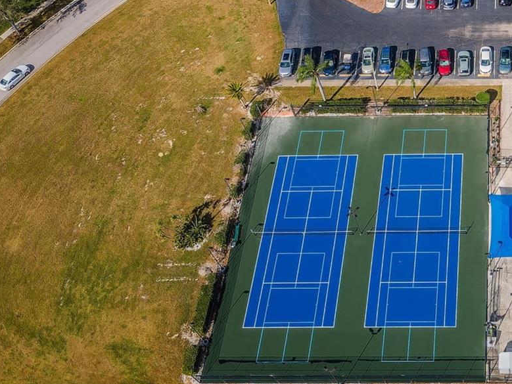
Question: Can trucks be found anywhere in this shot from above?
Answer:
No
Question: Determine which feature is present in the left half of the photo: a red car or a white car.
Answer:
white car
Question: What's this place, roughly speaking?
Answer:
sports ground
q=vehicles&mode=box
[323,50,339,77]
[360,47,376,75]
[0,65,33,91]
[342,51,352,69]
[419,45,433,75]
[499,46,512,73]
[278,48,296,76]
[425,0,437,9]
[386,0,400,9]
[437,49,451,76]
[298,43,316,73]
[443,0,456,9]
[460,0,472,9]
[405,0,419,10]
[378,46,394,74]
[457,50,471,77]
[478,47,493,74]
[500,0,511,6]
